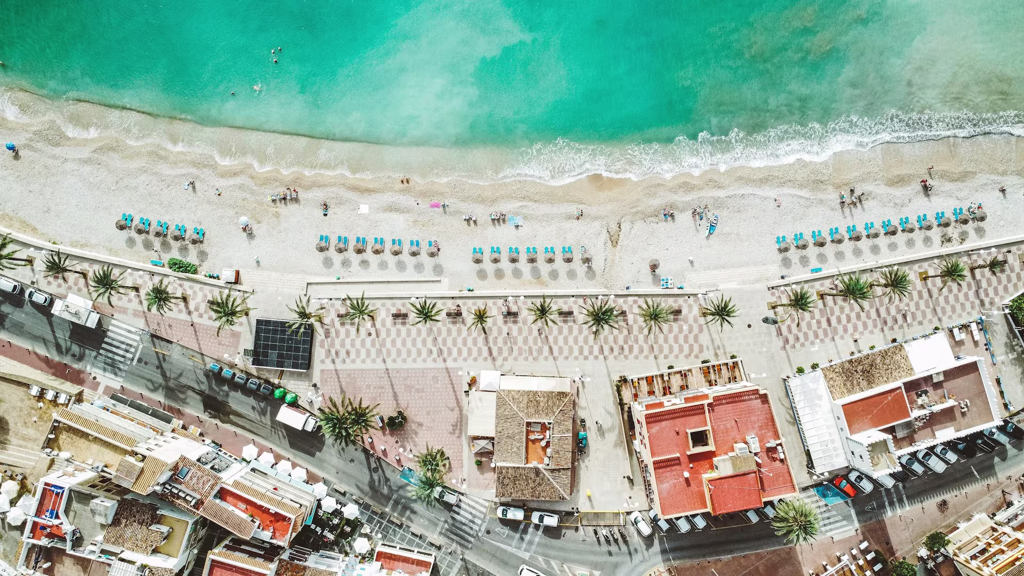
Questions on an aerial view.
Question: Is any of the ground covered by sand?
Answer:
Yes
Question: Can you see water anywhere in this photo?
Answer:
Yes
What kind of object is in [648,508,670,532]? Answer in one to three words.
car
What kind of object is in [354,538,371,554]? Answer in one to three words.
umbrella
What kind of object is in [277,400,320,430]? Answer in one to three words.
truck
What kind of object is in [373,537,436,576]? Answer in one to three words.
building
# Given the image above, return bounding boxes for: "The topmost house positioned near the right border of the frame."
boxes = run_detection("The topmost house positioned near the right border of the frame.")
[779,330,1006,481]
